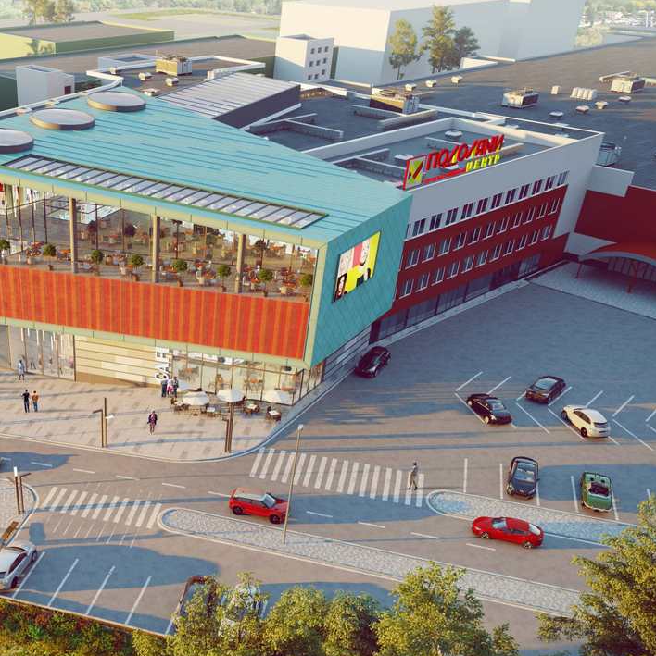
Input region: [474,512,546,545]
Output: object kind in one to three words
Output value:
car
